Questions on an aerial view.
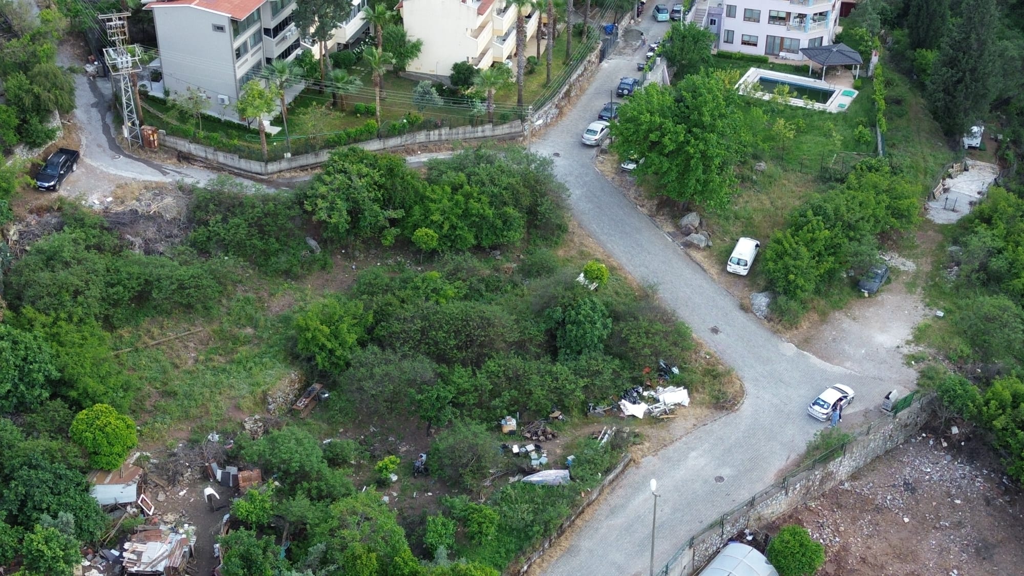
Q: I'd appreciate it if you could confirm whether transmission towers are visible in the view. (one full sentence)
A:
Yes, a transmission tower appears in the view.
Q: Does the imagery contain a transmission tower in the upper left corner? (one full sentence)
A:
Yes, there is a transmission tower in the upper left corner.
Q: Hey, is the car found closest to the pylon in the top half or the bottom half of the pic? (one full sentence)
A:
The car found closest to the pylon is in the top half of the image.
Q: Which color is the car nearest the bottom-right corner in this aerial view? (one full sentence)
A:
From above, the car nearest the bottom-right corner appears white.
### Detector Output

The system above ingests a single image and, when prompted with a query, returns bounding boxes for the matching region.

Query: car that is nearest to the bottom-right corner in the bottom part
[804,383,860,421]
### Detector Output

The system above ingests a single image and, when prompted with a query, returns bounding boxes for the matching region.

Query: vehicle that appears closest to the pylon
[37,145,81,185]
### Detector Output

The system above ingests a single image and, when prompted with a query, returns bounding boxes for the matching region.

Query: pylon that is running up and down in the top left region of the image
[84,16,142,151]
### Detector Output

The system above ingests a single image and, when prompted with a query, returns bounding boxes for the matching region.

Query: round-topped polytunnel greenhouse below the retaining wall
[693,539,781,576]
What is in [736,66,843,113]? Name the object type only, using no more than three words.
swimming pool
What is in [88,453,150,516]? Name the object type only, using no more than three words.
shed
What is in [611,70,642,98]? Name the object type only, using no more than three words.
car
